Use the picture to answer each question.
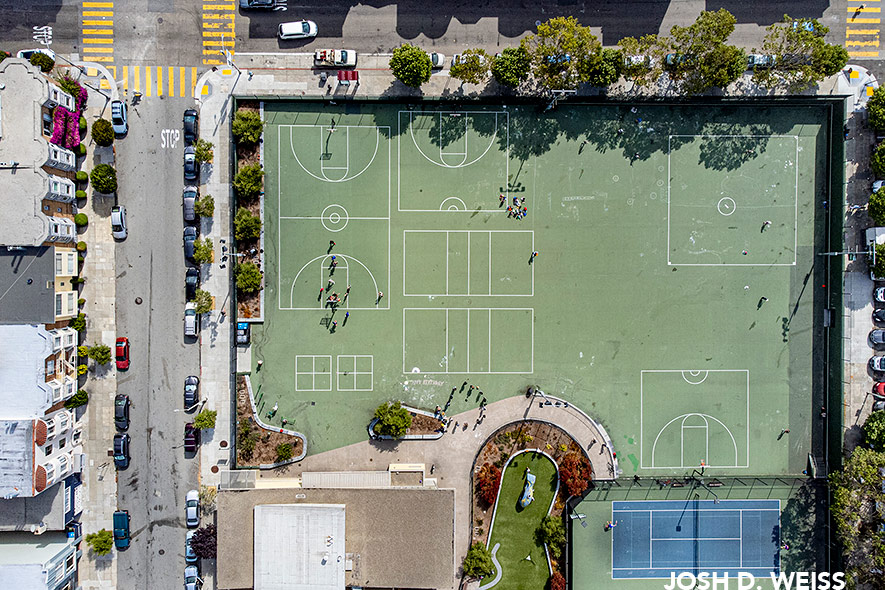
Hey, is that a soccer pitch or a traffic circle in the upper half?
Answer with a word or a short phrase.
soccer pitch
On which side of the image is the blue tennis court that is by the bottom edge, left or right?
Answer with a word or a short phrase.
right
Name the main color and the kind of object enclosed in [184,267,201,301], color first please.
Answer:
black car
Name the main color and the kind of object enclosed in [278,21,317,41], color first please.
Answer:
white car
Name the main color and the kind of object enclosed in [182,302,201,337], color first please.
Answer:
white car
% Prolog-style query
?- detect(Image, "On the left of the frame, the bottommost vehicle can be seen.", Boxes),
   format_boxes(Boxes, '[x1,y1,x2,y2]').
[183,563,204,590]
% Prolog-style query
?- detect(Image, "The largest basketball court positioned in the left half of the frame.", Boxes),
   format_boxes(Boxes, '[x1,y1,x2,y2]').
[278,125,391,309]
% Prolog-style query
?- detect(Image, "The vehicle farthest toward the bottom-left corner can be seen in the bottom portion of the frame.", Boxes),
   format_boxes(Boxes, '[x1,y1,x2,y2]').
[112,508,131,552]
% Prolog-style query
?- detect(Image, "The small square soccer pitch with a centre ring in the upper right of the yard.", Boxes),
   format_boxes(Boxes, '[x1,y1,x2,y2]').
[667,136,798,265]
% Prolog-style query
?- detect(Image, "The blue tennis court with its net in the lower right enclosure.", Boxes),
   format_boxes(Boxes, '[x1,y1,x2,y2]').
[612,491,780,590]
